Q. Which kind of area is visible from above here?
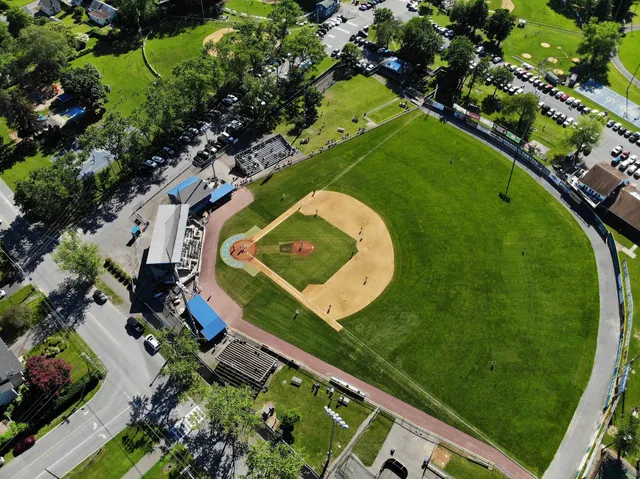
sports ground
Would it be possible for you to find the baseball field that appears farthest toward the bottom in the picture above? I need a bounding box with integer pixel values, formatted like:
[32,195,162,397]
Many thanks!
[199,107,621,479]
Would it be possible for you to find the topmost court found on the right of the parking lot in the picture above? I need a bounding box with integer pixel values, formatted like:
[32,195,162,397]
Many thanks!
[574,76,640,122]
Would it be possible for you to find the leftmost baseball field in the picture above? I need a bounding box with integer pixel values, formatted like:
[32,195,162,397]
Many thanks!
[143,24,258,77]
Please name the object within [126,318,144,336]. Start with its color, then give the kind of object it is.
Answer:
black vehicle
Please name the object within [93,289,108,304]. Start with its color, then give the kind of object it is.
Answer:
black car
